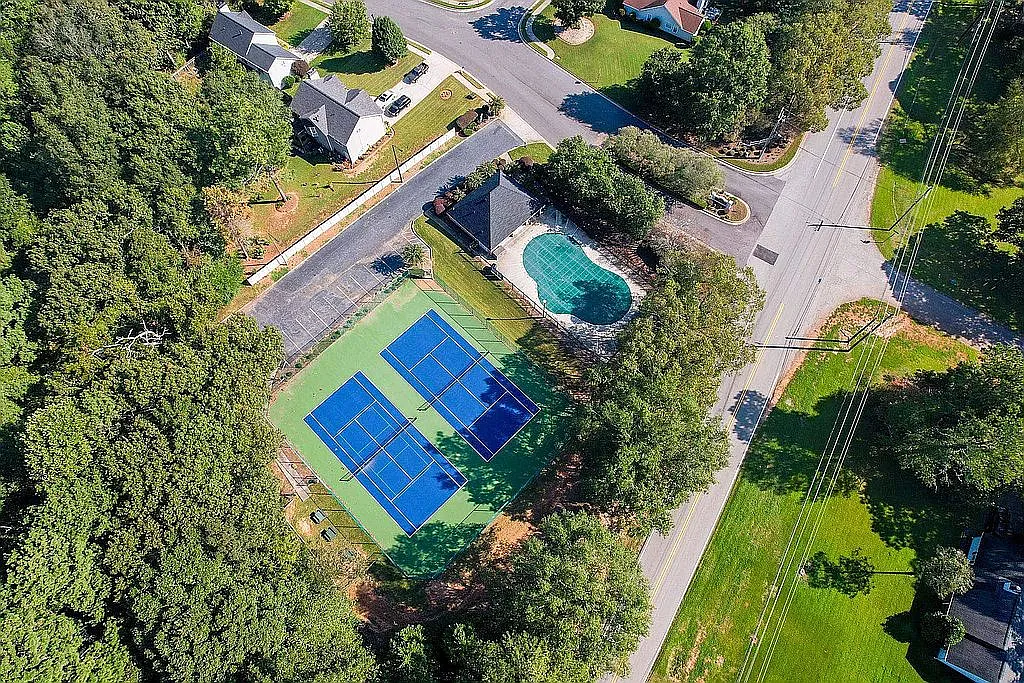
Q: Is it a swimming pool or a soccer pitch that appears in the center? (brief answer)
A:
swimming pool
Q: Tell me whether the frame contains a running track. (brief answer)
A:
No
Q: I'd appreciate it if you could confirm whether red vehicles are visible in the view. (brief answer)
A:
No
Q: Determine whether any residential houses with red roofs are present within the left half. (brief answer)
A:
No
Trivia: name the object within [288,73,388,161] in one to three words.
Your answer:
house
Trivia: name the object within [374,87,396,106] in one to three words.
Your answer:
car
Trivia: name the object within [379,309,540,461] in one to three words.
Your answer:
tennis court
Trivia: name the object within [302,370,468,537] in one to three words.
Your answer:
tennis court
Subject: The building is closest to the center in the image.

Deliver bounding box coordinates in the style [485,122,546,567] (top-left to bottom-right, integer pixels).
[445,168,546,256]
